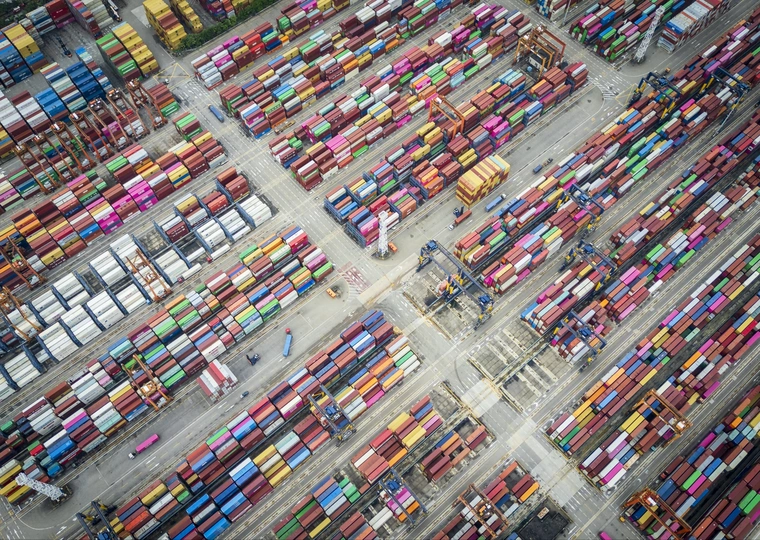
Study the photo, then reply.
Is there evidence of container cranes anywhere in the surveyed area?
Yes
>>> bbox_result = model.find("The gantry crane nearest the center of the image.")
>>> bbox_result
[420,240,467,297]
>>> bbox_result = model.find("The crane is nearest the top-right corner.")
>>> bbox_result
[698,66,751,118]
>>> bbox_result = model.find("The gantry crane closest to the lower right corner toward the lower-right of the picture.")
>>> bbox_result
[622,486,692,540]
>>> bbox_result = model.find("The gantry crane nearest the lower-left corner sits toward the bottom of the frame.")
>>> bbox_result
[75,500,123,540]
